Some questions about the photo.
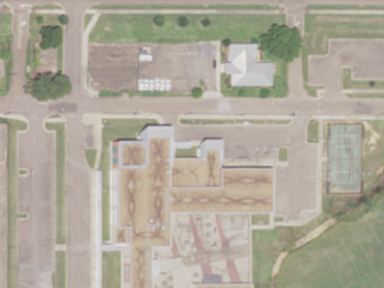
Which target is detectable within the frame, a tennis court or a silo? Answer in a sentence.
The one in the frame is a tennis court.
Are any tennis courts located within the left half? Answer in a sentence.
No, within the left half there is no tennis court.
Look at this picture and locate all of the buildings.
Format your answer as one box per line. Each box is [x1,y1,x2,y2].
[108,125,275,288]
[224,43,275,86]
